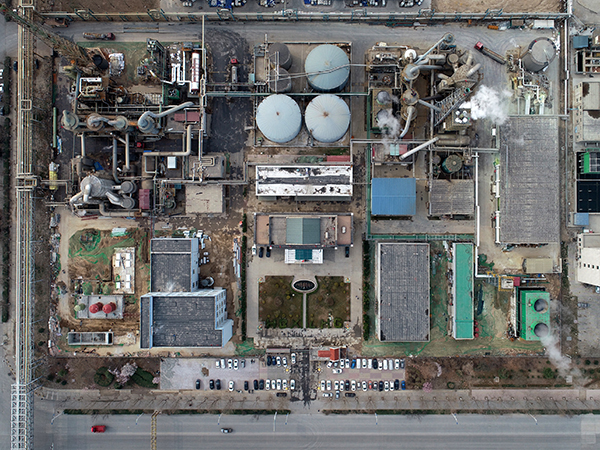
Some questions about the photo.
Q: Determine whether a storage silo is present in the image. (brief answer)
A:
Yes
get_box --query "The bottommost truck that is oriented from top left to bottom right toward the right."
[473,41,508,65]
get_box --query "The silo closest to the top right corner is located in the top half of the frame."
[517,34,563,75]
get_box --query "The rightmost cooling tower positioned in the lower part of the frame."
[515,285,551,342]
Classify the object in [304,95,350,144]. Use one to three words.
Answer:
storage tank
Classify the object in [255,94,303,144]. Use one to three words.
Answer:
storage tank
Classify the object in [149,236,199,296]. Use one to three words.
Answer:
building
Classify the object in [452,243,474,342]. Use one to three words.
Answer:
shed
